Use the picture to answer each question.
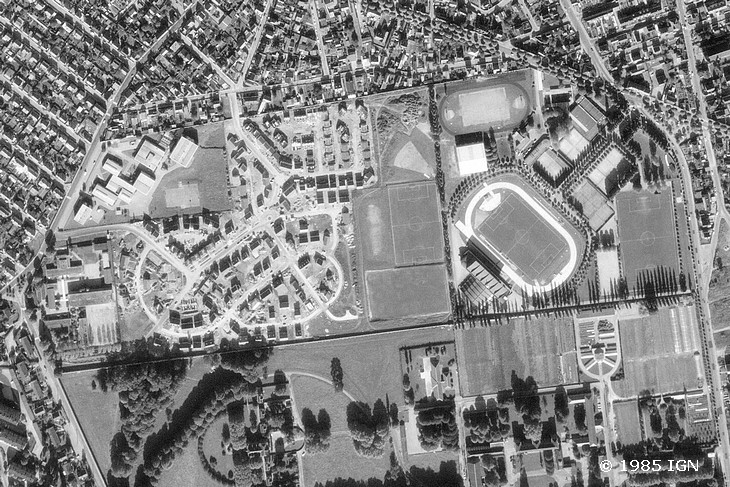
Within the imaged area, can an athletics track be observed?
Yes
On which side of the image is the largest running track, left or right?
right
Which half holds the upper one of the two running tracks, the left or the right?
right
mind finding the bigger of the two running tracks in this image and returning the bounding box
[454,173,587,305]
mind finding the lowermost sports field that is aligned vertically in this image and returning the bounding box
[597,248,622,297]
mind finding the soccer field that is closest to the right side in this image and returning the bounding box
[617,191,684,288]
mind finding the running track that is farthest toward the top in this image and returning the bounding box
[441,81,530,135]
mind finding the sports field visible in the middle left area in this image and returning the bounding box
[165,182,200,208]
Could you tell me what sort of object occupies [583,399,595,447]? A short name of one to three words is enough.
house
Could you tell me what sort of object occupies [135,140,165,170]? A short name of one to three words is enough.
building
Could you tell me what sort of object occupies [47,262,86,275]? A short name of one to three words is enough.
building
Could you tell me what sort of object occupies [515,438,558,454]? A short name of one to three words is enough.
house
